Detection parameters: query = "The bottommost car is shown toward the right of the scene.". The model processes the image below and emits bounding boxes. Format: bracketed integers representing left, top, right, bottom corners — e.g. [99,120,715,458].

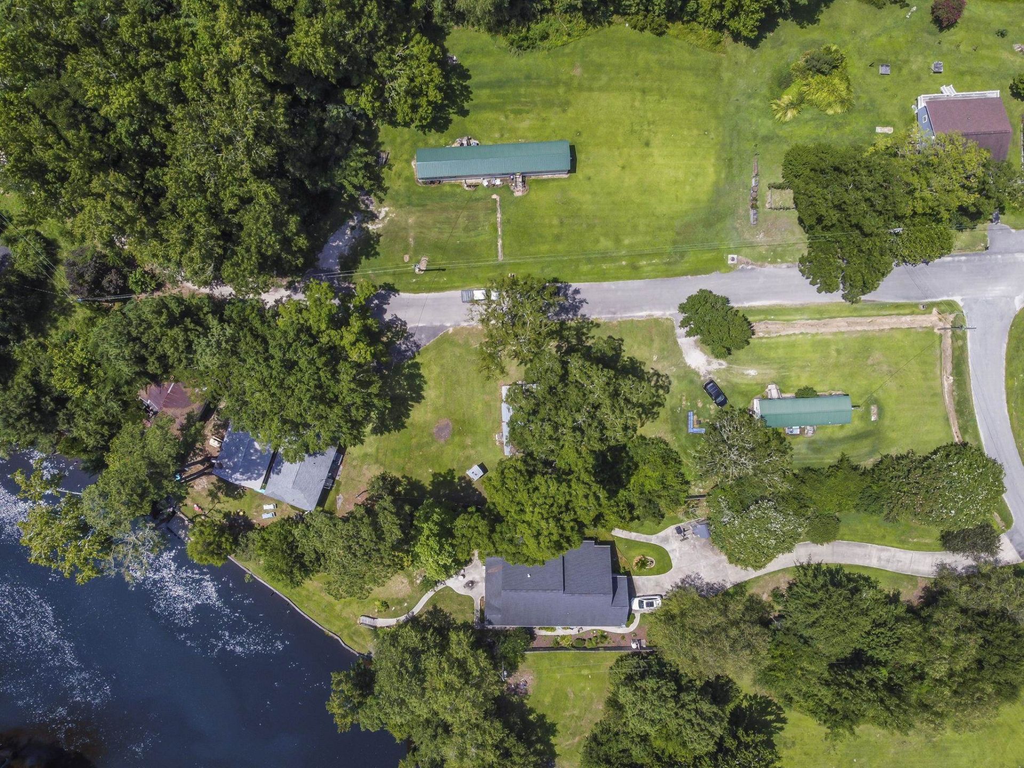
[632,597,663,612]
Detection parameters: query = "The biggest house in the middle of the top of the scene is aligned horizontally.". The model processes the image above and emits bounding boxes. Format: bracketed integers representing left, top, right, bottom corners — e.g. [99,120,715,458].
[416,140,570,182]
